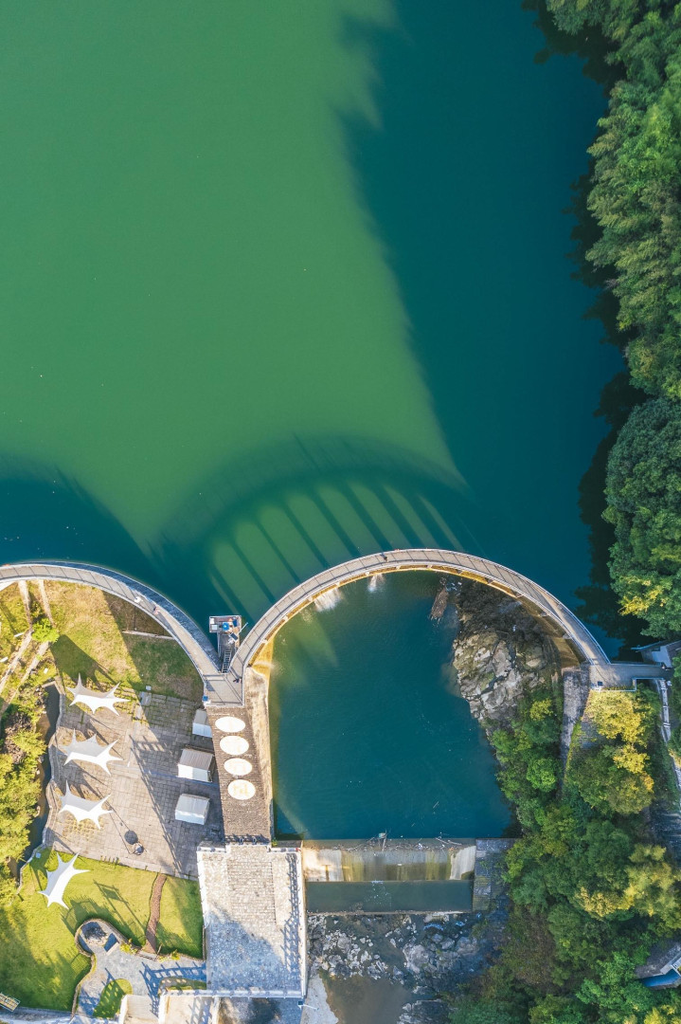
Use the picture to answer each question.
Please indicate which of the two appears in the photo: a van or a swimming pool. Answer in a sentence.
This aerial view contains a swimming pool.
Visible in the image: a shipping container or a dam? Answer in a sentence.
There is a dam in the scene.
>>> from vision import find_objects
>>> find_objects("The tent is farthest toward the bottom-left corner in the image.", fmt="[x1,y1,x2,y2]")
[37,845,93,909]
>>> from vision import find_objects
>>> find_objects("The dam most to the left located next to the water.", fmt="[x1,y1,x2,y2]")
[0,559,220,676]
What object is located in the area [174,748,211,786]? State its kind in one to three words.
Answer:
shed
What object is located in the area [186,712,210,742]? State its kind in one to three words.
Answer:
shed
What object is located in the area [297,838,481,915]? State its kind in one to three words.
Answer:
dam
